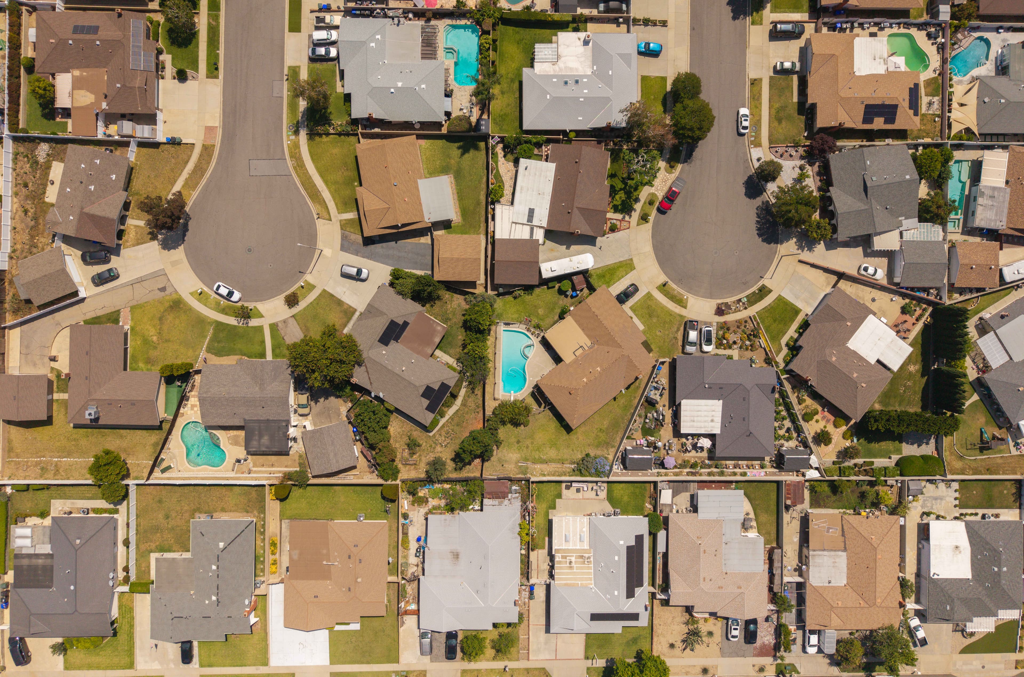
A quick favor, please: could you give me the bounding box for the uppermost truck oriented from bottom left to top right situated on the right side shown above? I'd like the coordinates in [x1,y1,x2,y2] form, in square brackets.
[658,176,686,213]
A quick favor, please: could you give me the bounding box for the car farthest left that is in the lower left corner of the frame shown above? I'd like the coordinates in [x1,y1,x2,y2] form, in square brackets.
[11,637,30,667]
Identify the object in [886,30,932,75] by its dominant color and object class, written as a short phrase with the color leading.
green swimming pool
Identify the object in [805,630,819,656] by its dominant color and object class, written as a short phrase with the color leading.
white vehicle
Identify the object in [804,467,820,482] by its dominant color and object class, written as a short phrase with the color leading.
white umbrella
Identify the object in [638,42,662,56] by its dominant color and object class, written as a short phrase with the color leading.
blue car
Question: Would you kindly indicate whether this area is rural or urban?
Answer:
urban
